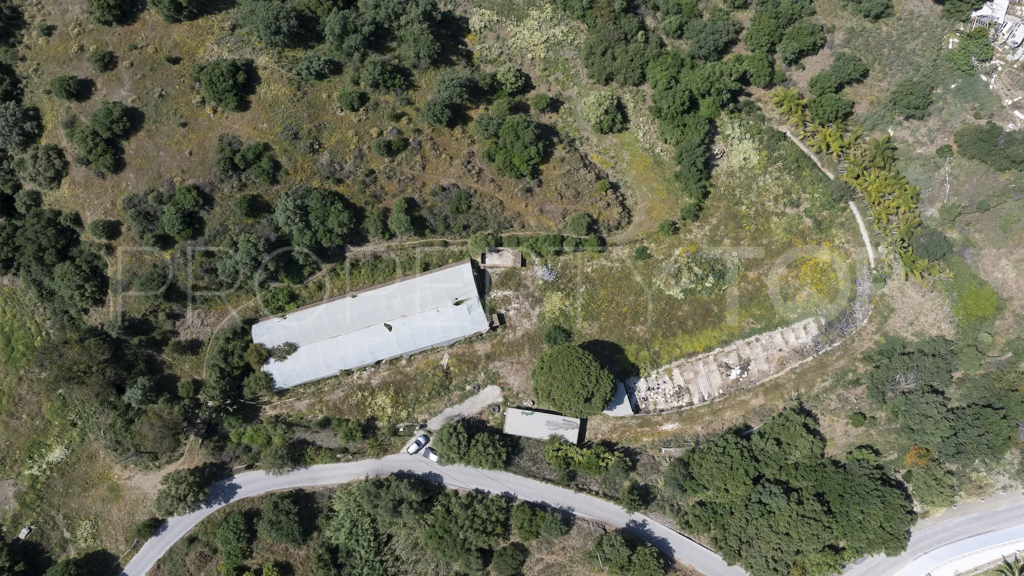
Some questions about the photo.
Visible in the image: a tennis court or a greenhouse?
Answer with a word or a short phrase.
greenhouse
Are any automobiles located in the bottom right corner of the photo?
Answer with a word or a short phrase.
No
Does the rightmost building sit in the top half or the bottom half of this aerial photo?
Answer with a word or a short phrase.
top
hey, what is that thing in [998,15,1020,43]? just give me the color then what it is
white vehicle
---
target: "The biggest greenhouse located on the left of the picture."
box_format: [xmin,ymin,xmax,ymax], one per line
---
[252,261,490,389]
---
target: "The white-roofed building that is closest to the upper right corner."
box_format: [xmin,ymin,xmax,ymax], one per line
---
[966,0,1009,31]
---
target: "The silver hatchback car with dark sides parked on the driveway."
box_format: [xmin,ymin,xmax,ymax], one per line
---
[406,433,431,457]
